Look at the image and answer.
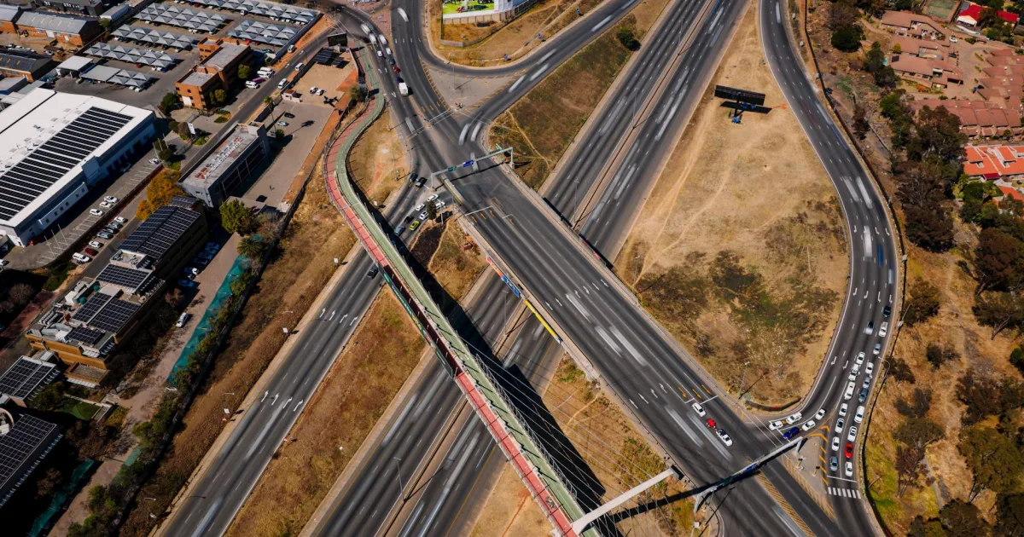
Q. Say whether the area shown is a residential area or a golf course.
residential area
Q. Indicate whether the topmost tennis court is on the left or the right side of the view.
right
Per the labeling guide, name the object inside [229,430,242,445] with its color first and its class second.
gray vehicle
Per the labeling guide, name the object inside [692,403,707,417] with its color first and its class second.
white car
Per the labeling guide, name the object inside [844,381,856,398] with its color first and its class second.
white vehicle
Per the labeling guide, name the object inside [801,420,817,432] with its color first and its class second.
white vehicle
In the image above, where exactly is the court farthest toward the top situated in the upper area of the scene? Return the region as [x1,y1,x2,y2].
[922,0,960,22]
